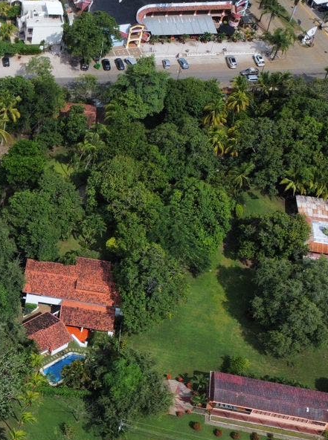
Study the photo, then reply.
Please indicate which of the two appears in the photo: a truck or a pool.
pool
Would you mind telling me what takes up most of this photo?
trees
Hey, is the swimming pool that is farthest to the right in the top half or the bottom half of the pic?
bottom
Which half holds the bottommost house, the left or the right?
right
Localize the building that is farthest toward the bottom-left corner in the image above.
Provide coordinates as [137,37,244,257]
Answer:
[14,252,117,366]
